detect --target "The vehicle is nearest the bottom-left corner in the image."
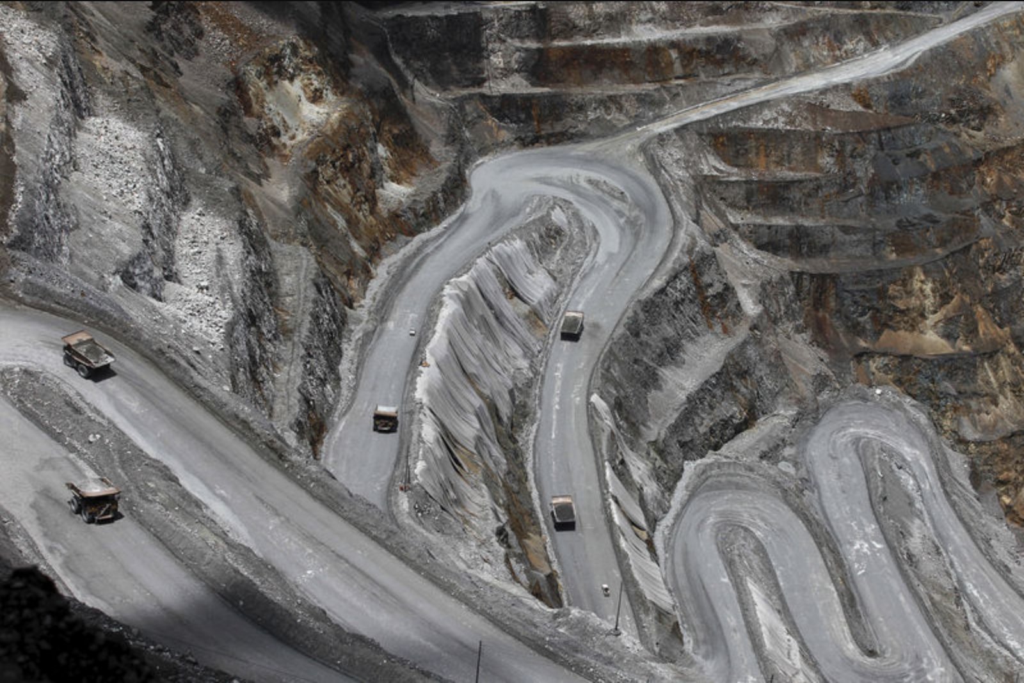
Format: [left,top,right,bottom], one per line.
[68,468,122,524]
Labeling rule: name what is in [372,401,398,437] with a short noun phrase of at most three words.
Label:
truck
